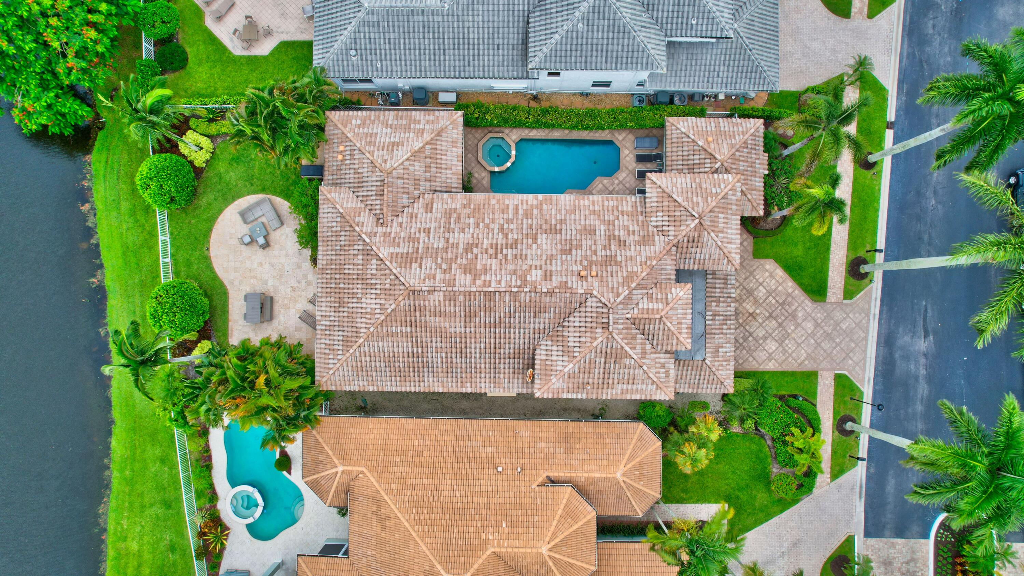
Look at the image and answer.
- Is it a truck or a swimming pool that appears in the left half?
swimming pool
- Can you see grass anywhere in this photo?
Yes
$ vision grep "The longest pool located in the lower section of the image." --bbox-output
[221,420,307,543]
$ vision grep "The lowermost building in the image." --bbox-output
[295,414,685,576]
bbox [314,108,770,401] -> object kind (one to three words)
house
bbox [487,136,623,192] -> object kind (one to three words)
swimming pool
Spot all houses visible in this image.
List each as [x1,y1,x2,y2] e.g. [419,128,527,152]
[314,108,770,401]
[295,414,685,576]
[311,0,782,99]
